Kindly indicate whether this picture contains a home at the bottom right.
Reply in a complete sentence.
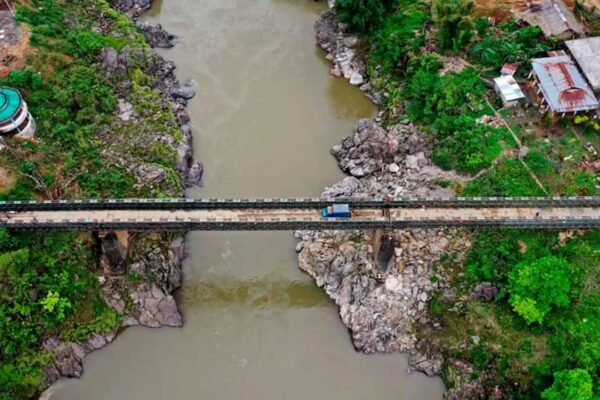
No, there is no home at the bottom right.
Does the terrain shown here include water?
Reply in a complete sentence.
Yes, water shows up in the scene.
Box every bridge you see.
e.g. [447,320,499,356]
[0,196,600,273]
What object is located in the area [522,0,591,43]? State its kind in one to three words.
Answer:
house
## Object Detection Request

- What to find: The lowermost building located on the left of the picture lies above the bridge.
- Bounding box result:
[0,87,35,145]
